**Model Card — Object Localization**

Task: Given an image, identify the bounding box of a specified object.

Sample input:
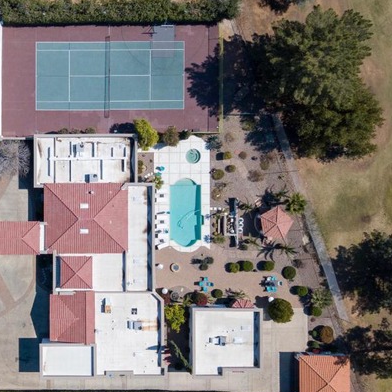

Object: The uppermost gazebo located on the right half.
[254,205,295,246]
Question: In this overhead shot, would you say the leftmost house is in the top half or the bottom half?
bottom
